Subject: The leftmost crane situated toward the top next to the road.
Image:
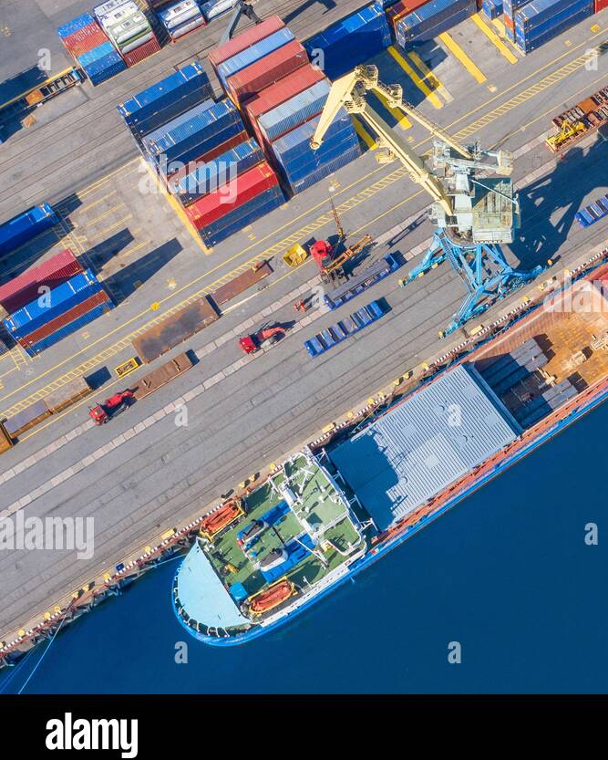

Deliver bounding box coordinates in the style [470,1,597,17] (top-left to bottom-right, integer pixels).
[308,227,371,292]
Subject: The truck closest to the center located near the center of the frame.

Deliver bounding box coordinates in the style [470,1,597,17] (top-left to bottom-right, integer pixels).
[237,320,298,357]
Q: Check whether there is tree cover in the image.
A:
No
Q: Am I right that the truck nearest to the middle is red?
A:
Yes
